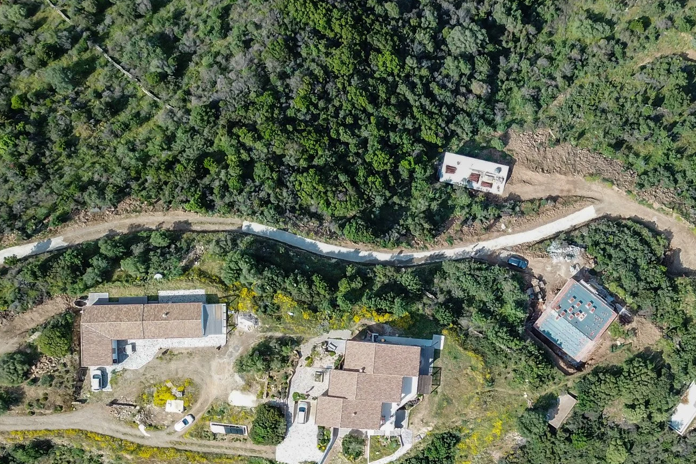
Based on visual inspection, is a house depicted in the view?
Yes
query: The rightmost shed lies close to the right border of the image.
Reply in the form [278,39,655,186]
[667,380,696,435]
